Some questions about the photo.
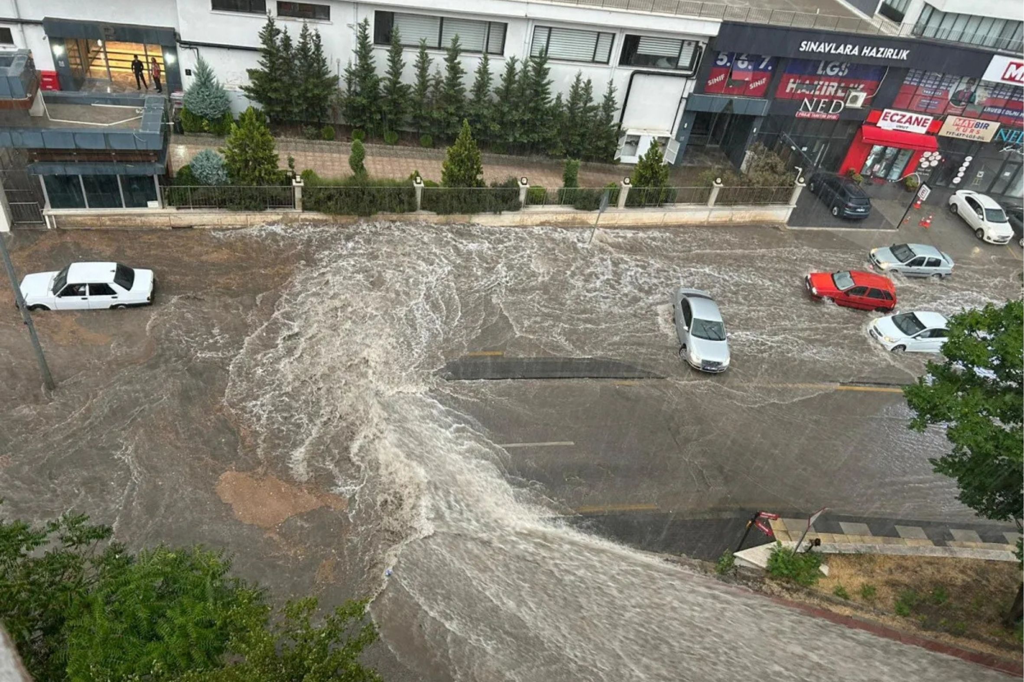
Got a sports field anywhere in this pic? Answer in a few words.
No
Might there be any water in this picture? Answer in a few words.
Yes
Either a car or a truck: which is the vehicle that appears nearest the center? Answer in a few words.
car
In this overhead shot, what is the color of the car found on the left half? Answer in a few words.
white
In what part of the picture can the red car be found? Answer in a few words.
right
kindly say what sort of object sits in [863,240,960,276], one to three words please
car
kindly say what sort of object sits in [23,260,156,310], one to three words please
car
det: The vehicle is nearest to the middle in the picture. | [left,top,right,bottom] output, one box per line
[674,284,734,372]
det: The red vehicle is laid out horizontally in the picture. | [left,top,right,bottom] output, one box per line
[802,267,900,311]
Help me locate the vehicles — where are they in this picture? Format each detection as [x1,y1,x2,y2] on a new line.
[802,267,900,311]
[1000,200,1024,239]
[866,310,975,355]
[23,260,156,310]
[863,240,960,276]
[944,190,1019,248]
[804,170,883,226]
[674,284,734,372]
